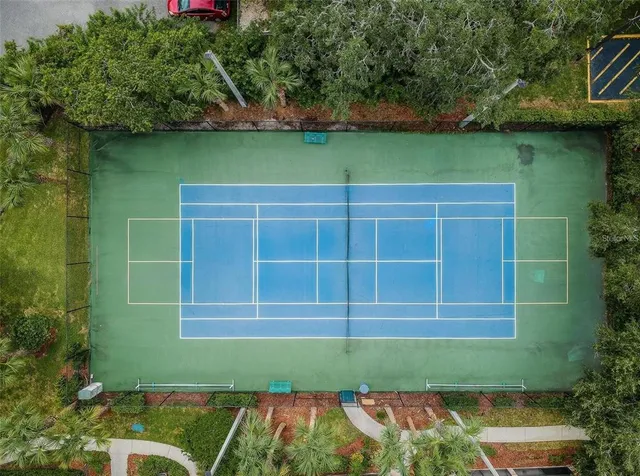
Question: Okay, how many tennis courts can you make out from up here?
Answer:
1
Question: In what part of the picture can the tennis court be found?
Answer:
center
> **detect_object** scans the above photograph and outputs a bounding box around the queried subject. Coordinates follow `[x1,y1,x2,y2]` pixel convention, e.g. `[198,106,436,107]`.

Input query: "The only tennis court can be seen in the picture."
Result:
[90,131,604,391]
